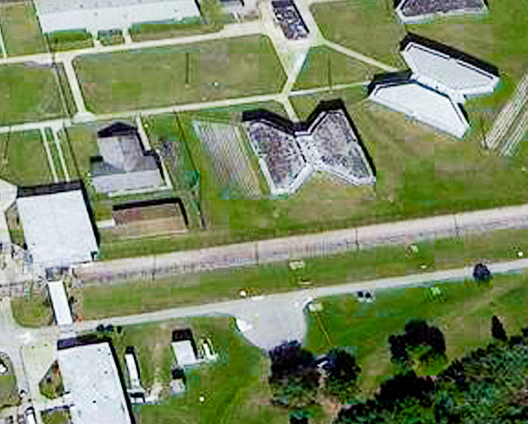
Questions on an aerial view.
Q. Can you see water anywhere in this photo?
No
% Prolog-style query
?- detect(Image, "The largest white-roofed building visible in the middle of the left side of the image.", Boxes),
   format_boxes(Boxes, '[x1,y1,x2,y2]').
[16,190,99,275]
